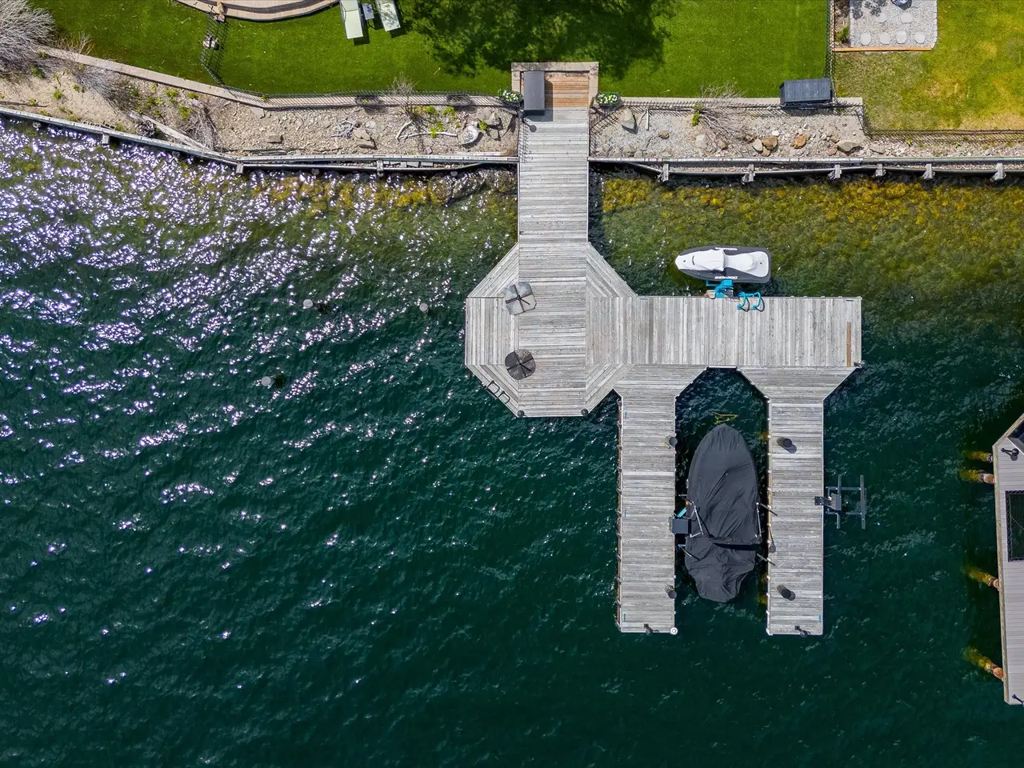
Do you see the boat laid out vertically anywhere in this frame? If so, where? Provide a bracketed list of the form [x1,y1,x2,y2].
[684,423,763,602]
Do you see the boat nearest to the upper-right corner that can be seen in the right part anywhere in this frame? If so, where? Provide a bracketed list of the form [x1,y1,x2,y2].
[673,246,771,284]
